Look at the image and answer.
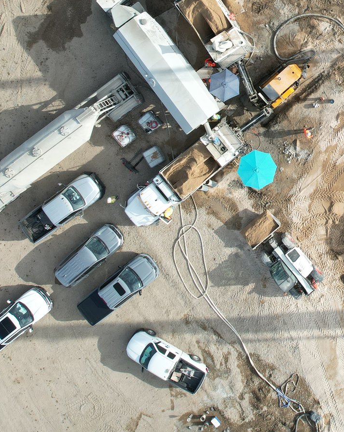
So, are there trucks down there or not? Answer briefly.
Yes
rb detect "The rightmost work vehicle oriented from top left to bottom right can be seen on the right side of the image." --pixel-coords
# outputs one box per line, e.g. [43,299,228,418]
[242,210,323,300]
